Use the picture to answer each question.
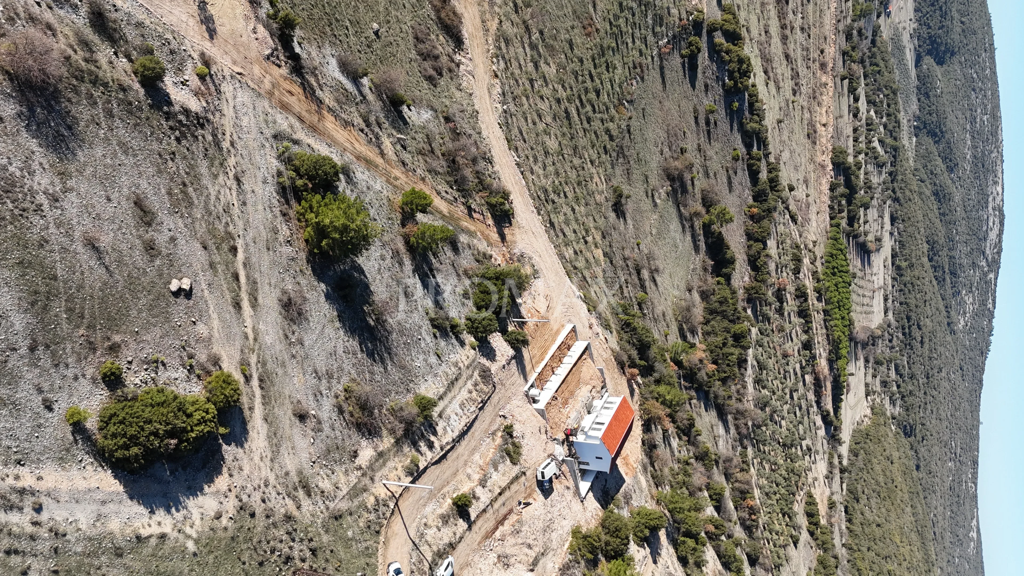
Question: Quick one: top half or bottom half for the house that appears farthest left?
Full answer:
Seen from above, the house that appears farthest left lies in the bottom half of the view.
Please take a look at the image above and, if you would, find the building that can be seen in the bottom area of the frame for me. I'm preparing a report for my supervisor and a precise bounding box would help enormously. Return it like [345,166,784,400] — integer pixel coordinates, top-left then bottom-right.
[565,385,635,472]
